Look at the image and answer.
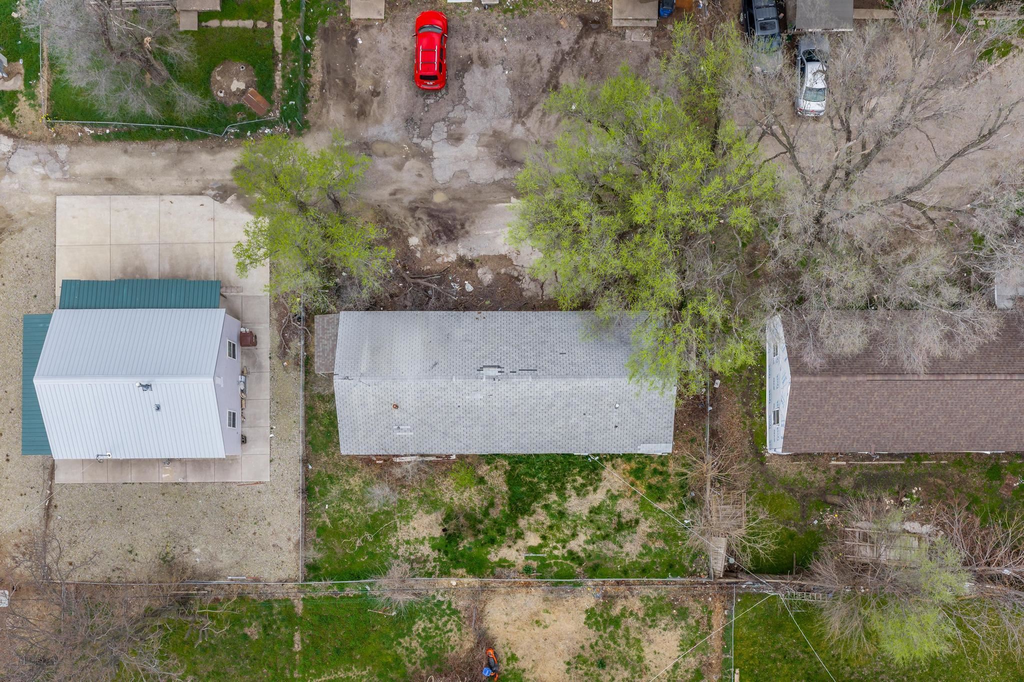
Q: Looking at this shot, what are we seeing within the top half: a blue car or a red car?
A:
red car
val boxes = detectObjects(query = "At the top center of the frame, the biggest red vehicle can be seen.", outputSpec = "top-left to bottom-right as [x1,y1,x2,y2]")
[411,13,449,94]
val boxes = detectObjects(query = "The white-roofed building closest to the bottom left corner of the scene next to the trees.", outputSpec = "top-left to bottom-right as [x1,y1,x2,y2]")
[23,279,242,465]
